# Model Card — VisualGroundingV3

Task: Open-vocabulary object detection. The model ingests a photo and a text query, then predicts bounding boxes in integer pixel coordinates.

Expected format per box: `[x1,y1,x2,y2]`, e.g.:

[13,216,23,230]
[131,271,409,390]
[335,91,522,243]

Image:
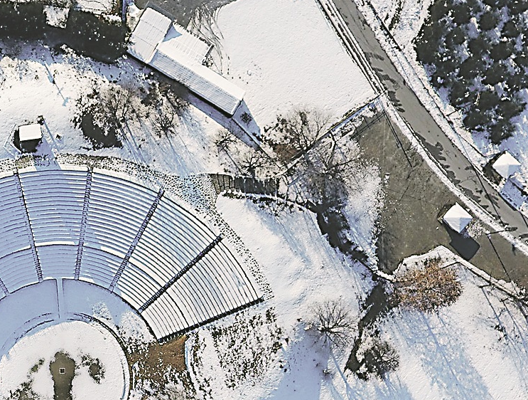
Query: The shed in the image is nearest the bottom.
[440,203,472,232]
